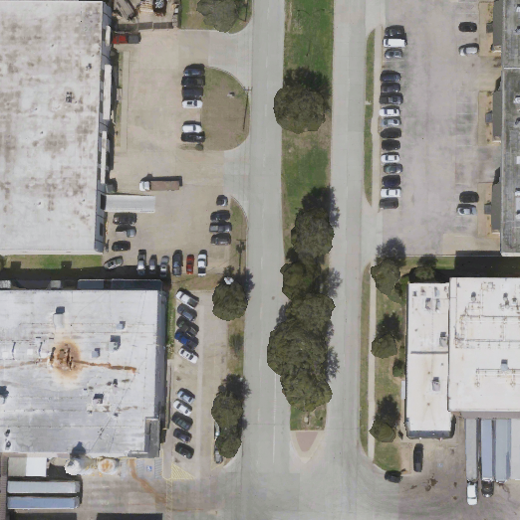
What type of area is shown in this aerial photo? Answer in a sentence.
The area seen from above is an industrial area.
